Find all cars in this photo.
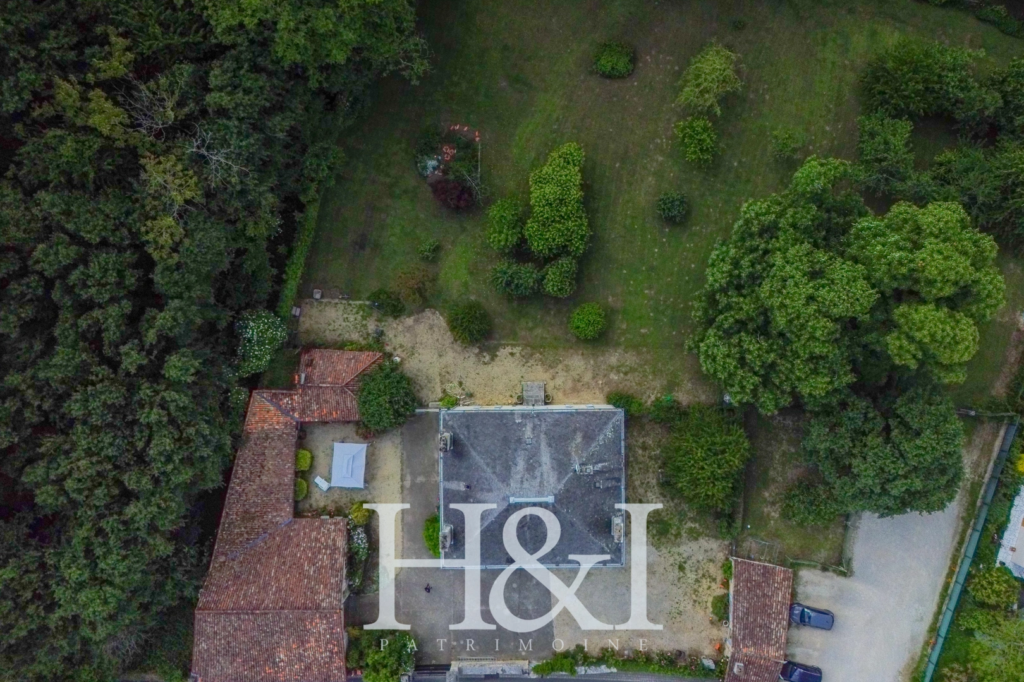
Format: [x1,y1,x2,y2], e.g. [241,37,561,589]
[781,660,823,682]
[790,602,835,629]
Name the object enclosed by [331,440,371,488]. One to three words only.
gazebo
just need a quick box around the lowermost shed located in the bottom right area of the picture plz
[716,554,793,682]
